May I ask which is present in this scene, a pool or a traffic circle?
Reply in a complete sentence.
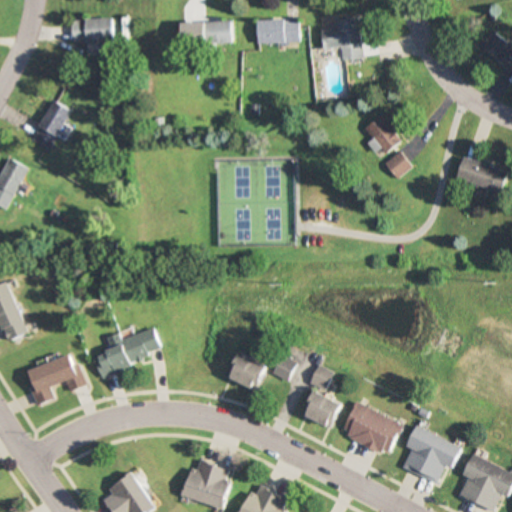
This aerial view contains a pool.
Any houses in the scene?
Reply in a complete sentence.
Yes, you can see a house in this photo.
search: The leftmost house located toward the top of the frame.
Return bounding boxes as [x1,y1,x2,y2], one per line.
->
[0,158,30,212]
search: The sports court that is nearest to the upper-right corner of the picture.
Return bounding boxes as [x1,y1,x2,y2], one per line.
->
[264,166,280,198]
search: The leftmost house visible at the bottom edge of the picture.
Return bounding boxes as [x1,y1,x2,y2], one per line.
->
[104,472,157,512]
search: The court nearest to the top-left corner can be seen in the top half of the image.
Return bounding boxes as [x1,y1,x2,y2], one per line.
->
[236,166,250,198]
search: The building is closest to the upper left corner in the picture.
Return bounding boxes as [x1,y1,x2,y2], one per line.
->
[70,16,116,40]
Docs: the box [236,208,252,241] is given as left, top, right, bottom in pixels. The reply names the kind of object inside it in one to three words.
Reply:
sports court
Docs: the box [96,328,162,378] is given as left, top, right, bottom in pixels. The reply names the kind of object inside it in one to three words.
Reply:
house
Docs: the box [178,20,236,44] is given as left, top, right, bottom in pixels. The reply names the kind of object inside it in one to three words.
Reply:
house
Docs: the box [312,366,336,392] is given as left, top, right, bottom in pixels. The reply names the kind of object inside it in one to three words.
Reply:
building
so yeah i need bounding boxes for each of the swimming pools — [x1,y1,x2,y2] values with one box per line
[312,48,350,102]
